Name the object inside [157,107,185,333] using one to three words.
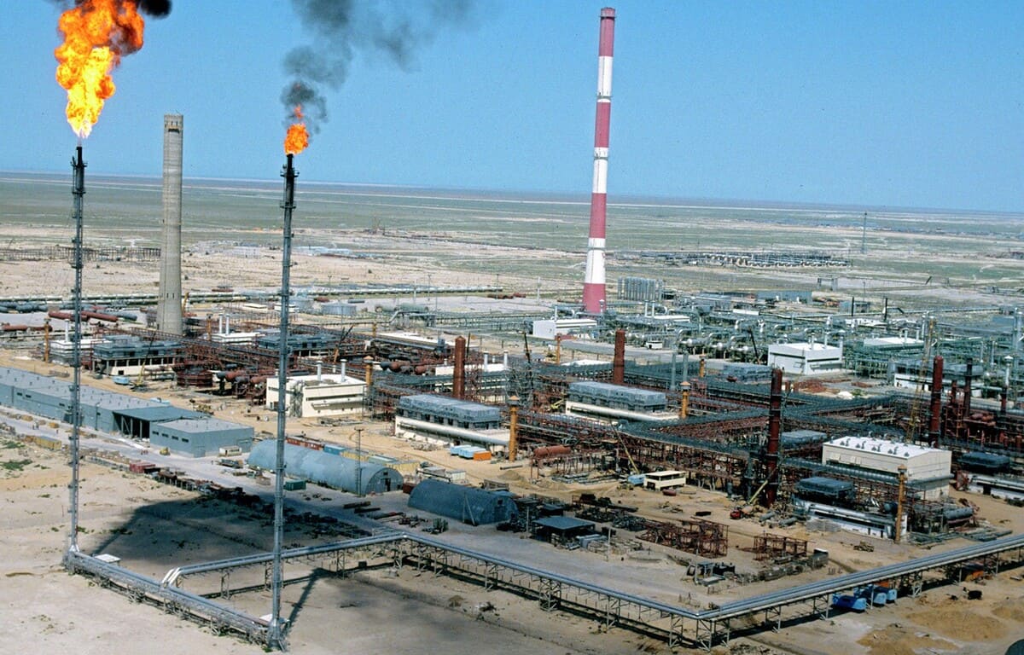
chimney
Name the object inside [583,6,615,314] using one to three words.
chimney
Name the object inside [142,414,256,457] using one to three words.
building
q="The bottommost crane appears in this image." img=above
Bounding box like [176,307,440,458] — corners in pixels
[724,475,779,519]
